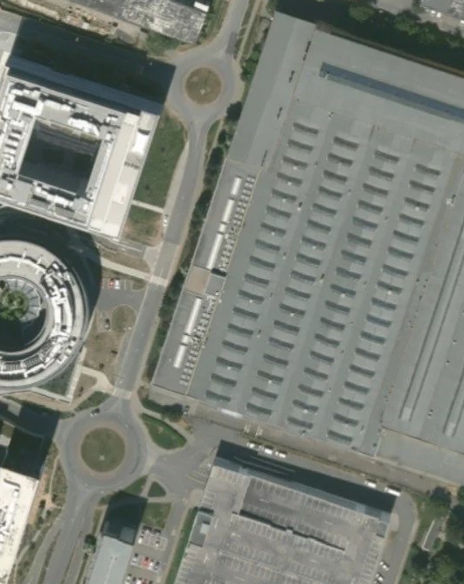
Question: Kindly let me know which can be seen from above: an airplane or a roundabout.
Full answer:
This aerial view contains a roundabout.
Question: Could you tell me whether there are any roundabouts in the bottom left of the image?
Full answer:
Yes, I can see a roundabout in the bottom left of the image.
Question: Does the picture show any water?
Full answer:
No, water can't be seen anywhere here.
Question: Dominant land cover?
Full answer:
The scene is dominated by buildings.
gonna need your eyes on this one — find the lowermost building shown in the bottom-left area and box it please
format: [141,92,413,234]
[84,518,139,584]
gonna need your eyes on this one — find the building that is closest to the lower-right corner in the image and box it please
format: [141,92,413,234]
[176,460,391,584]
